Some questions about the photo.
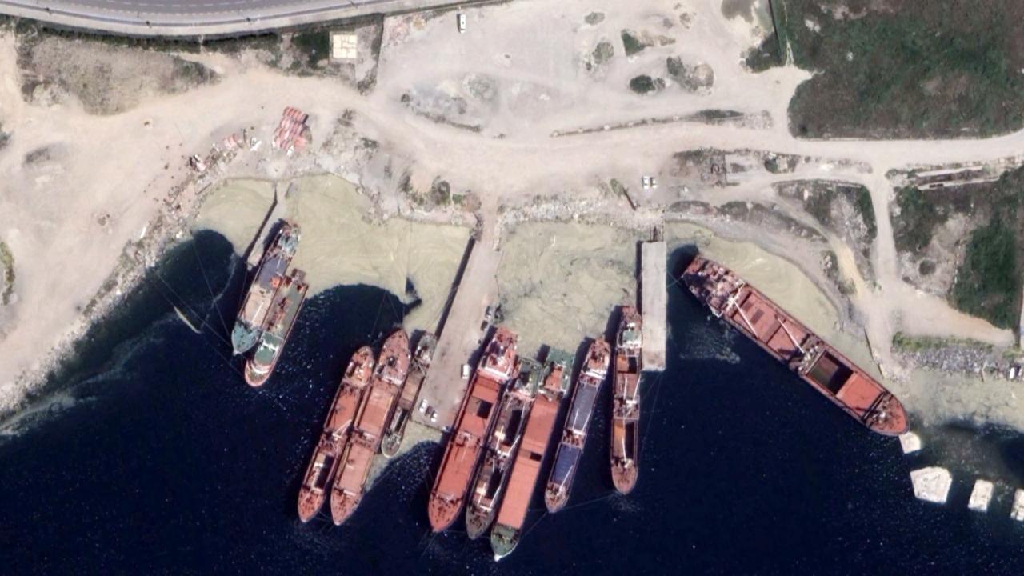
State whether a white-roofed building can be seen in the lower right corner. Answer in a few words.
No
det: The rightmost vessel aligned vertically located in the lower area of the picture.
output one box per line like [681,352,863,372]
[613,306,642,495]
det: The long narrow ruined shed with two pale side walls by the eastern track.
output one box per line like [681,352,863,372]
[917,165,1001,189]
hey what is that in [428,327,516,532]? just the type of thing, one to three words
ship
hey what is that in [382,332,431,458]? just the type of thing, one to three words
ship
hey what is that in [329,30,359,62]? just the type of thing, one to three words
building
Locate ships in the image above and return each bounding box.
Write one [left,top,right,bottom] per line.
[682,253,908,436]
[489,347,575,561]
[301,345,371,523]
[382,332,431,458]
[331,328,407,525]
[613,306,642,495]
[546,336,606,513]
[428,327,516,532]
[230,220,298,354]
[247,270,309,388]
[465,355,536,540]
